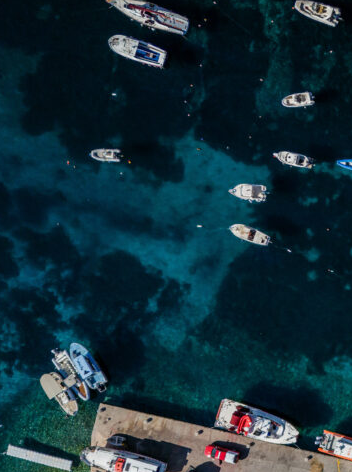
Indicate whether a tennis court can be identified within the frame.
No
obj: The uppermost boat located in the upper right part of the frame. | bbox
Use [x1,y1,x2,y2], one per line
[284,0,342,28]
